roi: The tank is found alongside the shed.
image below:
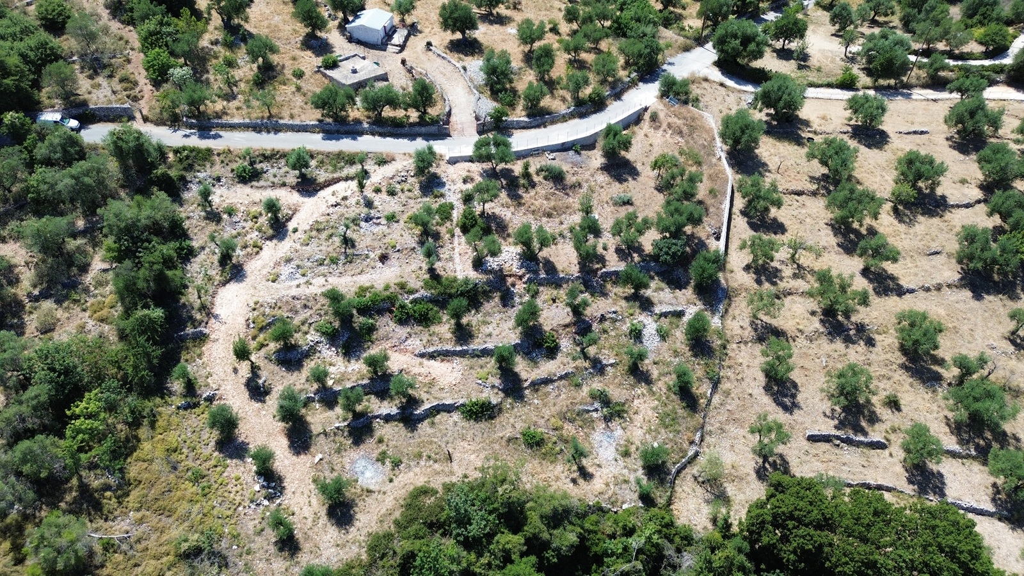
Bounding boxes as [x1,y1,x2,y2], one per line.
[319,55,388,90]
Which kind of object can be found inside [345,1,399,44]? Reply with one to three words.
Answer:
shed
